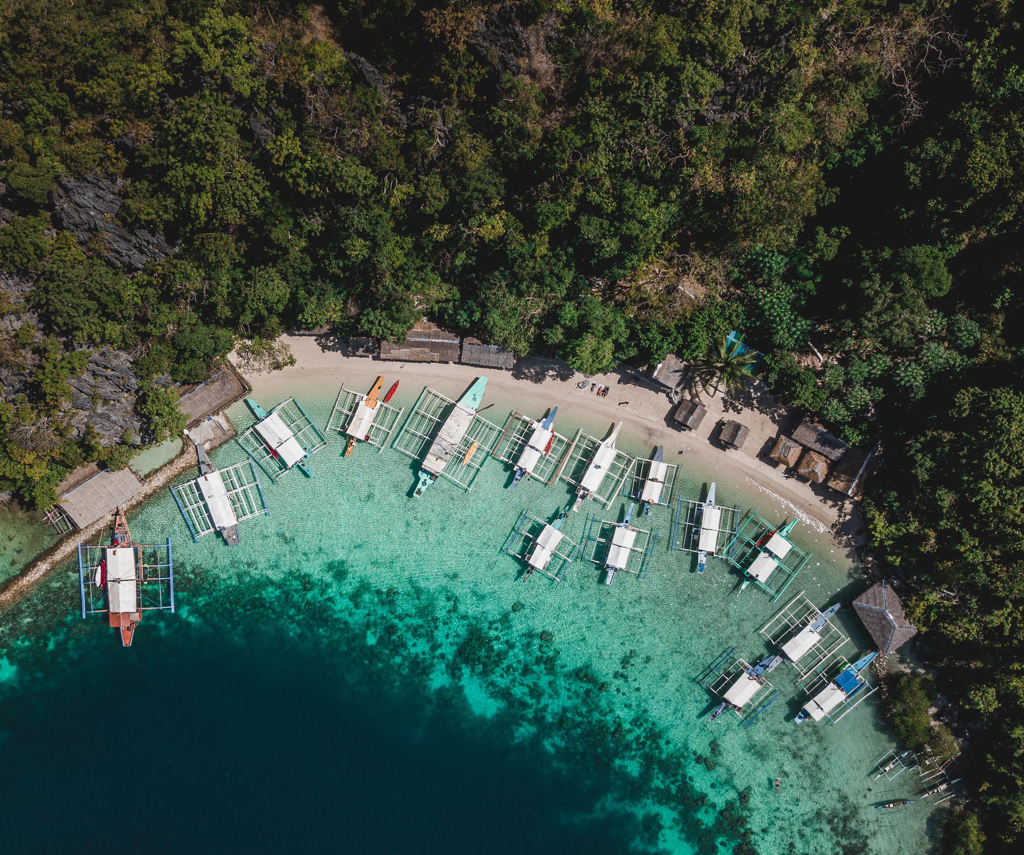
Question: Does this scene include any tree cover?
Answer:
Yes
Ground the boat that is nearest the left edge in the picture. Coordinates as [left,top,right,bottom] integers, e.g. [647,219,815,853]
[42,507,72,539]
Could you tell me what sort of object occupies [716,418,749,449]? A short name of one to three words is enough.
house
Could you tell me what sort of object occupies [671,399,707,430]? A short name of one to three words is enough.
house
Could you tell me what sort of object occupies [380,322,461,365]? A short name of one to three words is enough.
shed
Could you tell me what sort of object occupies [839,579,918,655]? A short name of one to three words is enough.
building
